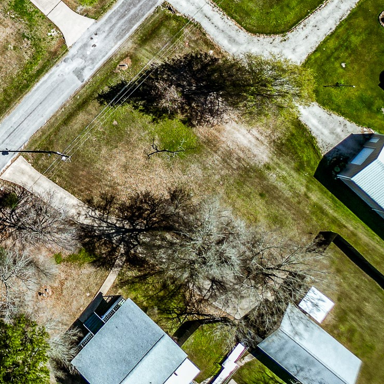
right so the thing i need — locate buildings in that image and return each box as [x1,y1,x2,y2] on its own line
[68,295,200,384]
[335,134,384,221]
[251,301,366,384]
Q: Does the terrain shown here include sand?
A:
No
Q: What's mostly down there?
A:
grass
